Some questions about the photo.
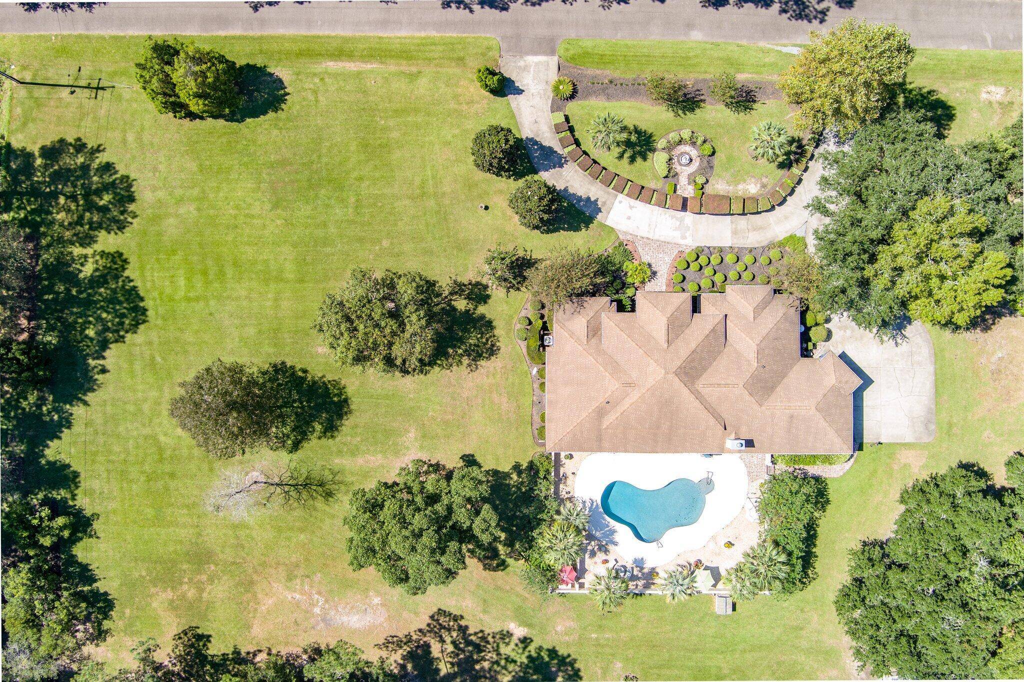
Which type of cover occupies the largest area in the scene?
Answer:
grass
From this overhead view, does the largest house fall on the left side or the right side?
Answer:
right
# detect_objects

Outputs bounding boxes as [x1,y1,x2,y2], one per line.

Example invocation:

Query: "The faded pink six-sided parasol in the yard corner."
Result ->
[556,565,577,586]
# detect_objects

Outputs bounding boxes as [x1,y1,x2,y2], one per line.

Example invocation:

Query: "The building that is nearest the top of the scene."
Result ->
[545,285,864,454]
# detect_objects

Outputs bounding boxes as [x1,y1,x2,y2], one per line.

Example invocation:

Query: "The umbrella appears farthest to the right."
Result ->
[690,568,716,594]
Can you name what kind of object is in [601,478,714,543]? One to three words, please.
swimming pool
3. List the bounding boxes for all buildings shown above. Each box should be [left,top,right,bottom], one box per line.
[545,285,864,454]
[713,593,732,616]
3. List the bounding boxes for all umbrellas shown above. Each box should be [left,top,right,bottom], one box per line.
[690,568,716,594]
[586,565,606,588]
[556,565,577,586]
